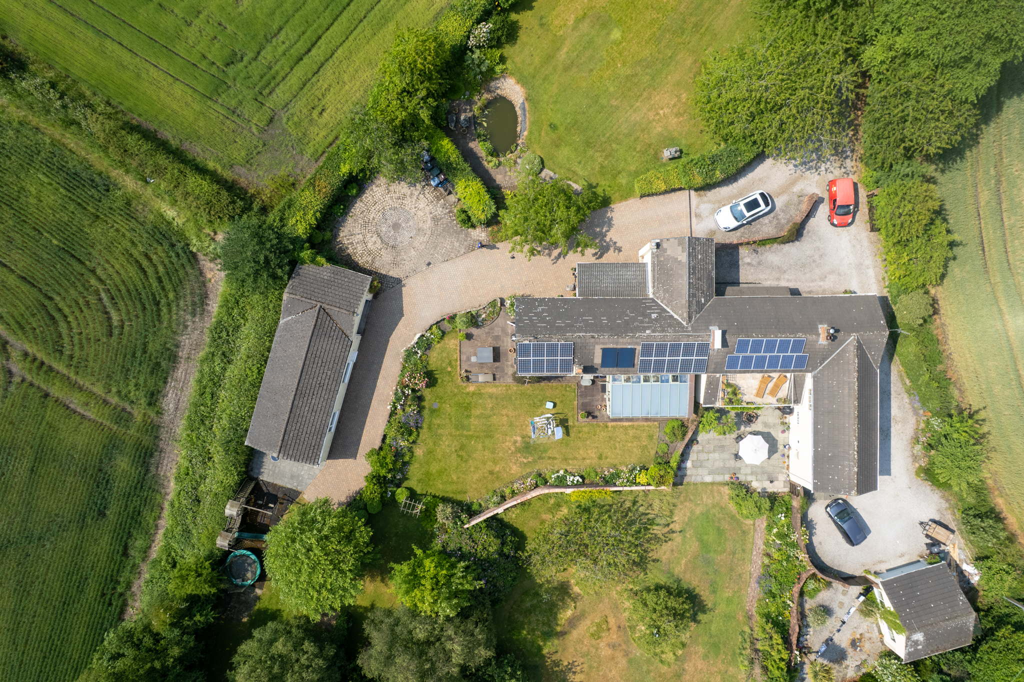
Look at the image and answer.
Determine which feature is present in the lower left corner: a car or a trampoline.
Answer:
trampoline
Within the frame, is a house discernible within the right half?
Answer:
Yes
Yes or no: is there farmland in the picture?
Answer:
Yes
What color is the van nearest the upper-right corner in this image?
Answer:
red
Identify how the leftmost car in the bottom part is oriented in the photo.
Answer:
on a diagonal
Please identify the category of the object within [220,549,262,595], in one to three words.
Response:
trampoline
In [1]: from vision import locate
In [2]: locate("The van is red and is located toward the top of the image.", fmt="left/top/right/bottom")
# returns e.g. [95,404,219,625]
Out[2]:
[825,175,858,231]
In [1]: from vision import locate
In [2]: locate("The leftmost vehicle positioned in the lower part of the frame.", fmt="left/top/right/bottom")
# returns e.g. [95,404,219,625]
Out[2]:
[822,494,870,548]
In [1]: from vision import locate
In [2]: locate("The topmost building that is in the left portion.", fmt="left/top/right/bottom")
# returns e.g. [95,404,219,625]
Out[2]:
[245,263,375,466]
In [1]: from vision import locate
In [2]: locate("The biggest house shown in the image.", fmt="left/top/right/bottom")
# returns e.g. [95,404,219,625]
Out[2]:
[503,235,927,496]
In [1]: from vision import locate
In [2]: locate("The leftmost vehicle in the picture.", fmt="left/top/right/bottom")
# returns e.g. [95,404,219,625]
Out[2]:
[713,189,773,234]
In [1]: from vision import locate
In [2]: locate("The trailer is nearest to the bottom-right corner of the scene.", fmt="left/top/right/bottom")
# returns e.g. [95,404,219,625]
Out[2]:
[913,516,960,550]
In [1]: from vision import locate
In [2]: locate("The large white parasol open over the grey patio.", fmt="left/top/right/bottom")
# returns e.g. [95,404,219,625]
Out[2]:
[737,433,768,463]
